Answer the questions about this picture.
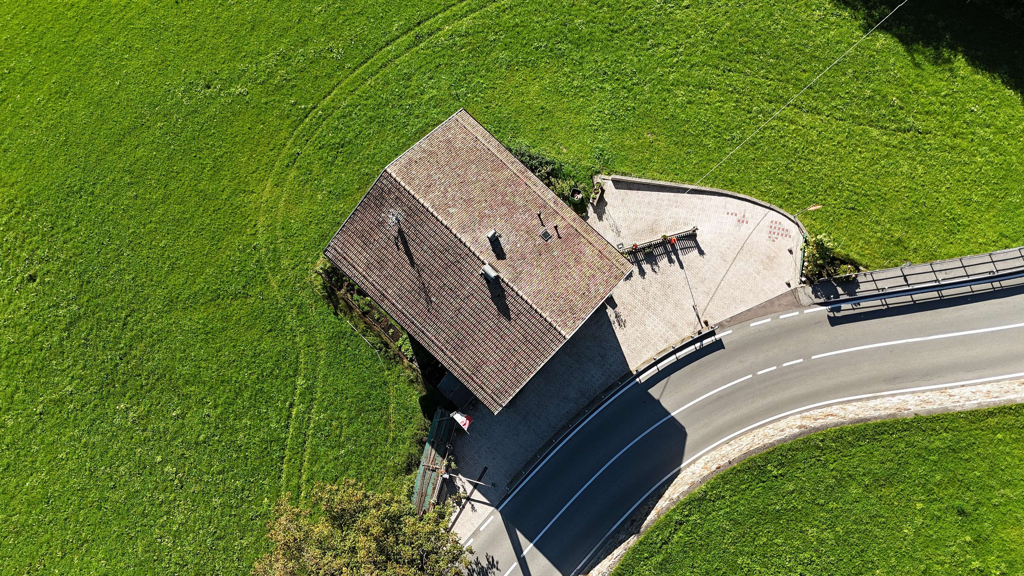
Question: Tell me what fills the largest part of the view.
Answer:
grass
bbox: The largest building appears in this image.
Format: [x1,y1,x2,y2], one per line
[323,107,633,416]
